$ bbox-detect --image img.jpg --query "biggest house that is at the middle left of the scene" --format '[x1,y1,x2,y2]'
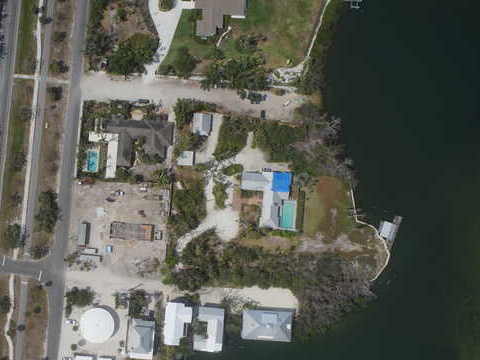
[88,118,174,178]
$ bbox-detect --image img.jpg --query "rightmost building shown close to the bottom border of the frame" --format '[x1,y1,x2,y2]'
[240,309,292,343]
